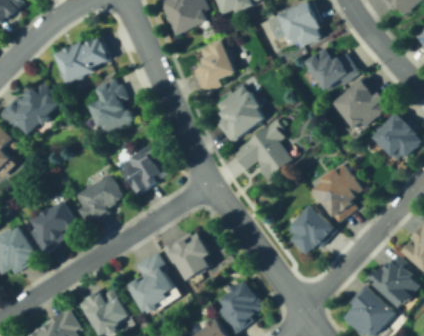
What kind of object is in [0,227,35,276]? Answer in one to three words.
house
